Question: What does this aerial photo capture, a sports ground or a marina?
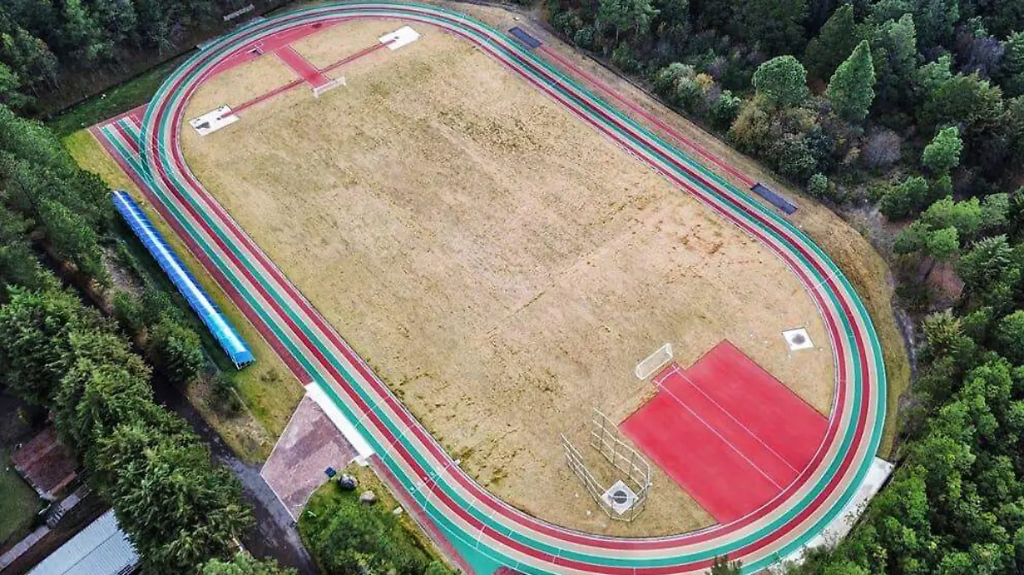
sports ground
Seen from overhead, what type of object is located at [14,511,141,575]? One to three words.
building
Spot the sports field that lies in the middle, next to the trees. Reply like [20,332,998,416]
[182,19,832,534]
